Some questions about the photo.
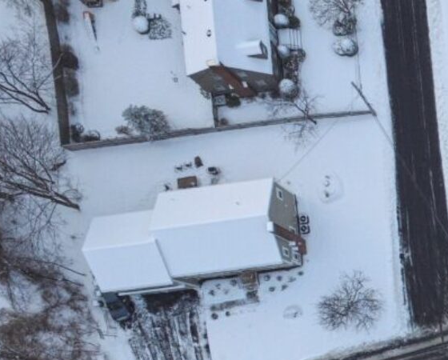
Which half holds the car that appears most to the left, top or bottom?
bottom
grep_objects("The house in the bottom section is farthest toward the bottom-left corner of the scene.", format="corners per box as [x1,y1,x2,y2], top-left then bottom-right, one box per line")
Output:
[84,178,302,299]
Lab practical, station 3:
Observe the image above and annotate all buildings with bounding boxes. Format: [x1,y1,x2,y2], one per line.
[84,178,302,299]
[182,0,312,107]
